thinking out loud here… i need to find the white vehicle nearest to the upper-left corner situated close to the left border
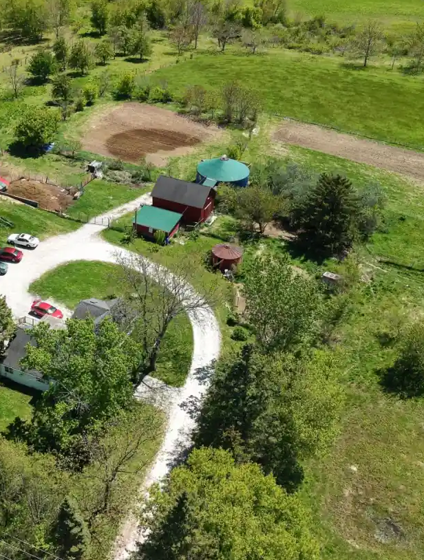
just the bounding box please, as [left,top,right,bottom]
[8,234,39,249]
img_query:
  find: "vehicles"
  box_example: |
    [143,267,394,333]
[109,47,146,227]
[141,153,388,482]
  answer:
[27,299,60,316]
[8,234,39,249]
[0,262,10,275]
[0,248,24,263]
